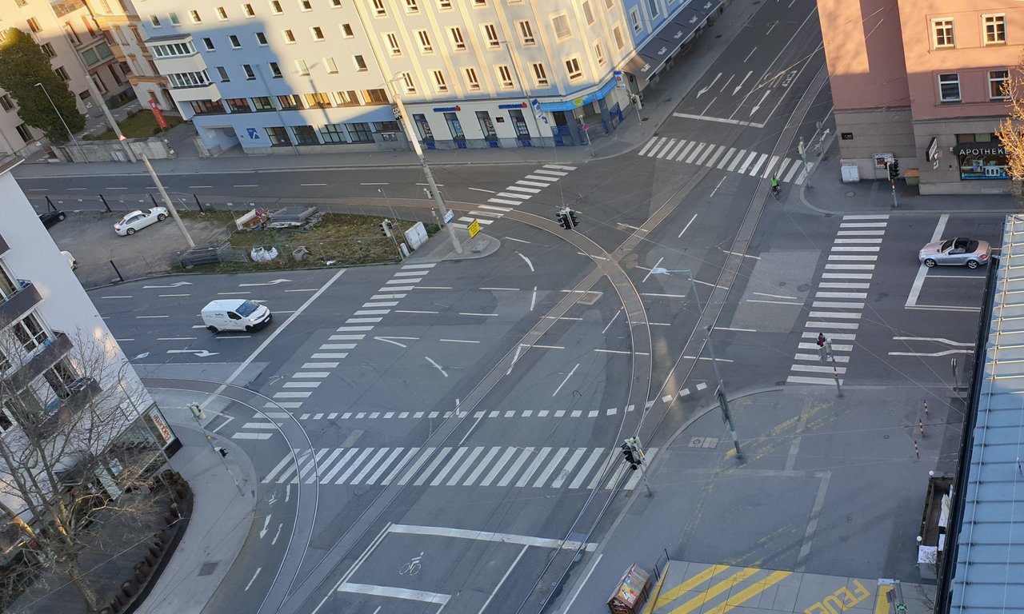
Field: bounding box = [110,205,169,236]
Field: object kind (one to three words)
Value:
car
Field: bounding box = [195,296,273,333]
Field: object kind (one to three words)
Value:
van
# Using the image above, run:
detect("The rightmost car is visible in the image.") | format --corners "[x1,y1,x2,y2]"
[917,235,990,268]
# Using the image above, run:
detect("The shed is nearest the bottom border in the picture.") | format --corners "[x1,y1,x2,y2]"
[605,562,656,614]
